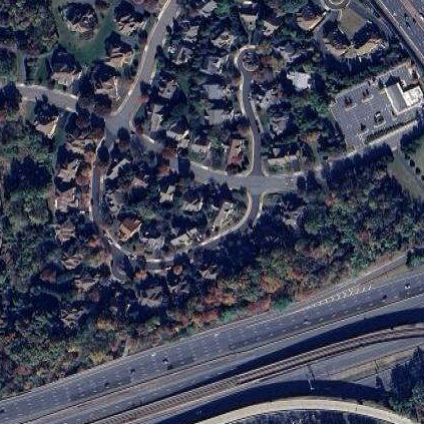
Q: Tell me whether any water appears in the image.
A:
No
